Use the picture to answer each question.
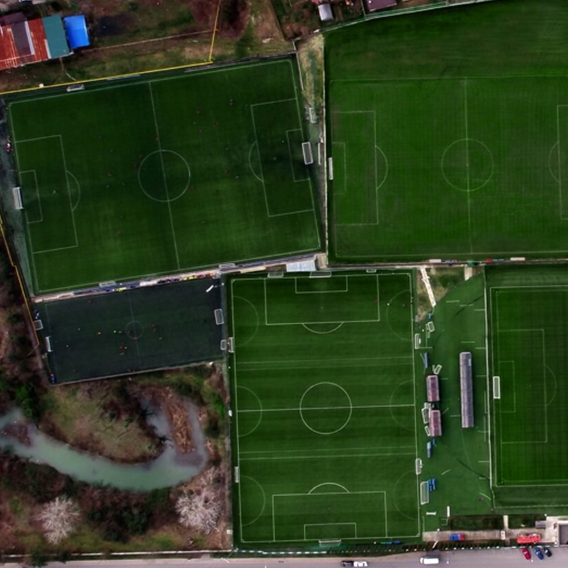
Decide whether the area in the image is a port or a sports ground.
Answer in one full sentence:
This image shows a sports ground.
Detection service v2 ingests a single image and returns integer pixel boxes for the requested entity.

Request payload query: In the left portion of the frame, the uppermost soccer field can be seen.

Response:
[2,53,322,297]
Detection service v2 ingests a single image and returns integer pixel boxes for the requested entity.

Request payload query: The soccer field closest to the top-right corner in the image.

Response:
[324,0,568,264]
